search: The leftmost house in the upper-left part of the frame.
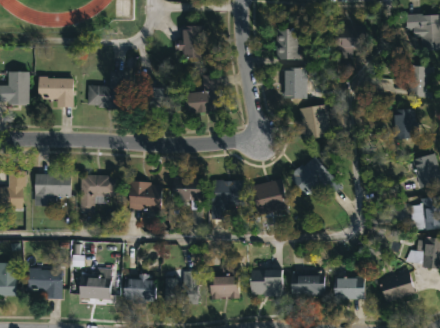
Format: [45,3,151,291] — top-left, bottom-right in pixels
[0,71,31,105]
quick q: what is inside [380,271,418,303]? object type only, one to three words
house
